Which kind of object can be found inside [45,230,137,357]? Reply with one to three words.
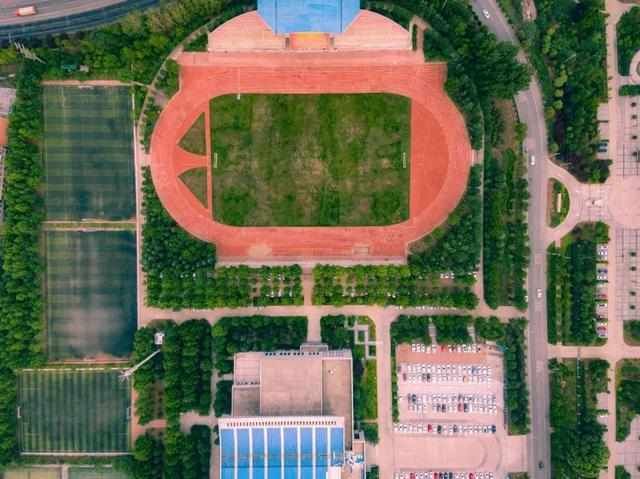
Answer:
soccer field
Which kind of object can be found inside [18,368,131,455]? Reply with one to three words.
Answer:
soccer field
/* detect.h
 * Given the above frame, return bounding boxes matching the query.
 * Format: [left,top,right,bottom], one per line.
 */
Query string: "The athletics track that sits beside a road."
[149,51,471,259]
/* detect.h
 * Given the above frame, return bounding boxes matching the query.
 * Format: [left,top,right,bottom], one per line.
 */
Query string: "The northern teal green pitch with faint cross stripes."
[43,85,134,219]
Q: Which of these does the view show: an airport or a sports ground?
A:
sports ground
